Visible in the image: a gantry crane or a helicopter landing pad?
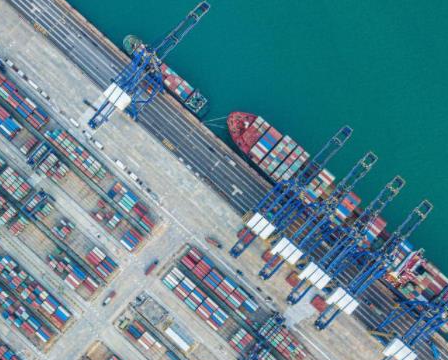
gantry crane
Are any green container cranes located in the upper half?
No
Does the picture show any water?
Yes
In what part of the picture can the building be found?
bottom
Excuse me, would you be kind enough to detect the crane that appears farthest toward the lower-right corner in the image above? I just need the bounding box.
[368,289,448,360]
